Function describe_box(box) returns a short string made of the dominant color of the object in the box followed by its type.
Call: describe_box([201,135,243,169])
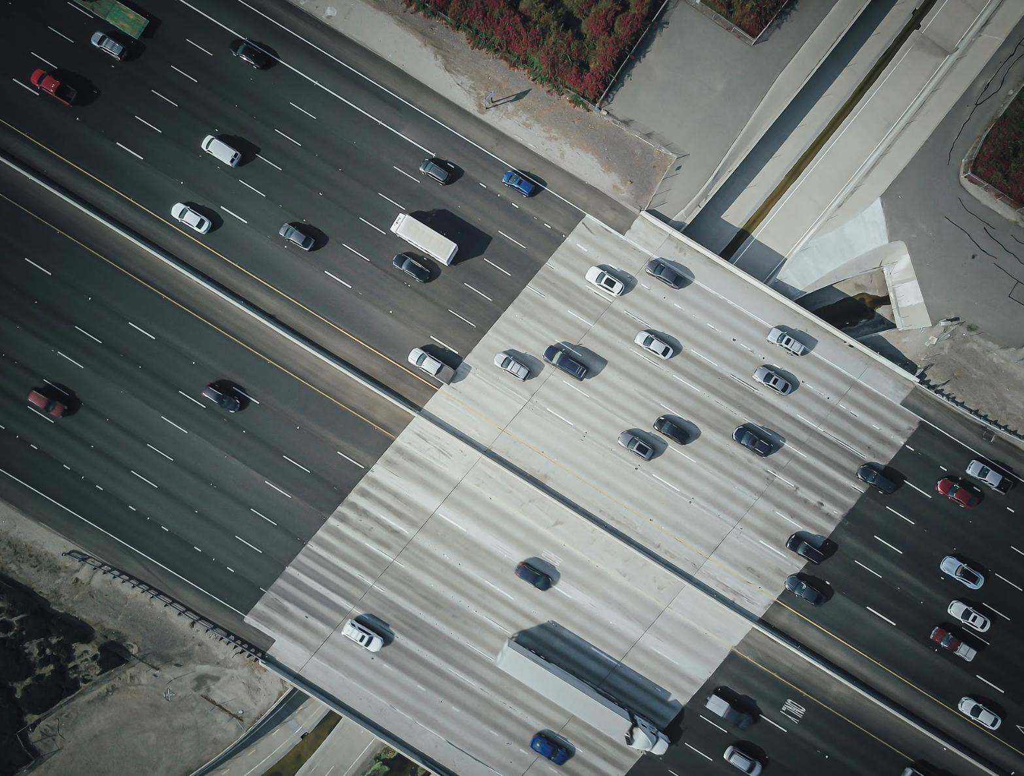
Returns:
white vehicle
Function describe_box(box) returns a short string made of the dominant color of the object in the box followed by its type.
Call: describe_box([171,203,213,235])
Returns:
white car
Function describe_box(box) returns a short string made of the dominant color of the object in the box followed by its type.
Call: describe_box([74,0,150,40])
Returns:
green truck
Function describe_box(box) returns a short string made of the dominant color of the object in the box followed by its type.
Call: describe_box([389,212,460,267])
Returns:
white truck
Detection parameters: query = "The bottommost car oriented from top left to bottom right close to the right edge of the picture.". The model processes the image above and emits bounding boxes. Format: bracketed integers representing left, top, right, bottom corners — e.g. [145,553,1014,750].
[956,696,1000,729]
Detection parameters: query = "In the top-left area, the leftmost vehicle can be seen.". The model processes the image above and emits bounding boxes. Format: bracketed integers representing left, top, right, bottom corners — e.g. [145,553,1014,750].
[29,66,80,106]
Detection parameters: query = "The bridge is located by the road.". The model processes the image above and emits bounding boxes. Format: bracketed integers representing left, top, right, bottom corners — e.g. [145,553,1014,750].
[245,212,921,776]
